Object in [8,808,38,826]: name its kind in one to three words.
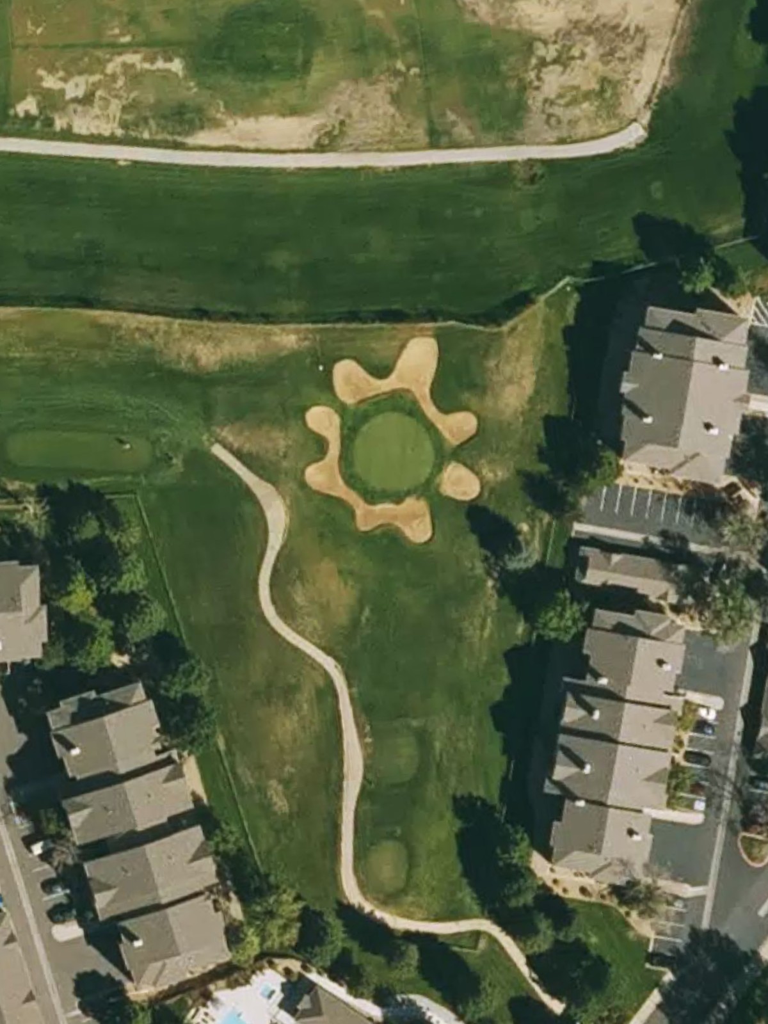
car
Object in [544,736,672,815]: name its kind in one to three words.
house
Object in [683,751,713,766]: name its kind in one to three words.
car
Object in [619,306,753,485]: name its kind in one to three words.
house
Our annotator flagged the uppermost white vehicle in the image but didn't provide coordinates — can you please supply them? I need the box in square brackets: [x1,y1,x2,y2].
[689,705,718,721]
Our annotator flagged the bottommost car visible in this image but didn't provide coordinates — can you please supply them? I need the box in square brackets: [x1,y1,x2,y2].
[647,953,677,968]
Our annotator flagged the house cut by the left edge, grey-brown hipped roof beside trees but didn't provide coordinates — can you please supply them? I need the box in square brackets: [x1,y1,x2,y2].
[0,561,46,663]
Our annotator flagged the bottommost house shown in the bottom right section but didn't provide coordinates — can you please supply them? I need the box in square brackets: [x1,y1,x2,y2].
[551,800,655,885]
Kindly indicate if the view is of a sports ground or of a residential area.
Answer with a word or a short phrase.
residential area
